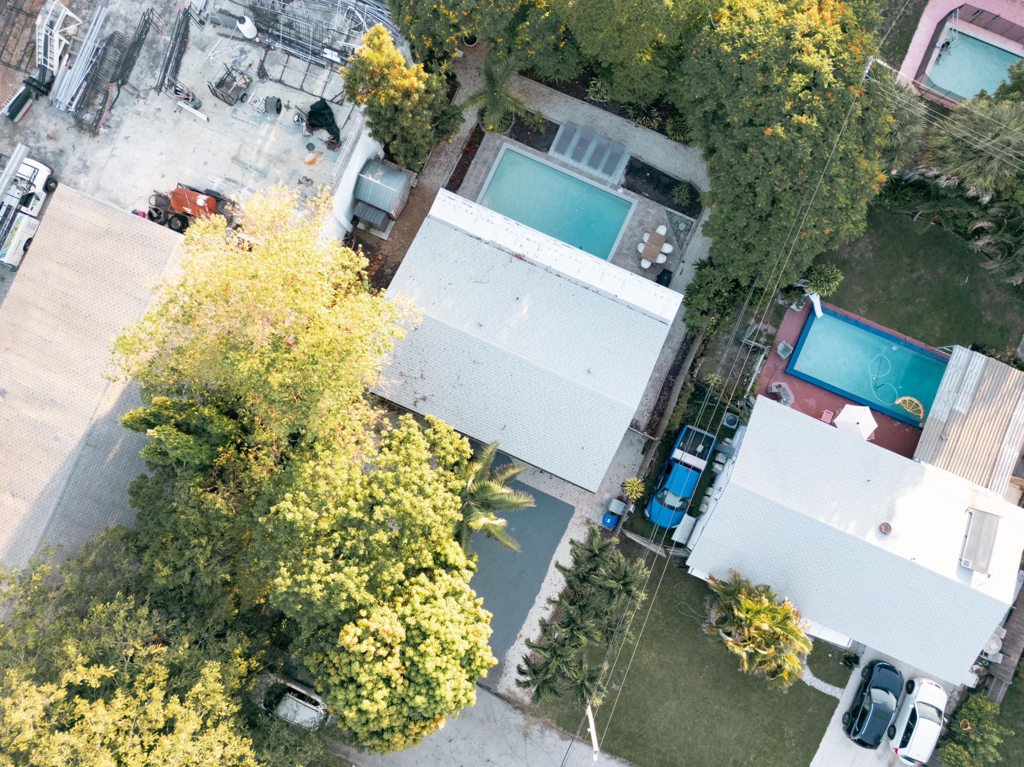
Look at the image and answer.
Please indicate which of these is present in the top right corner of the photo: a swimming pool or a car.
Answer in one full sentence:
There is a swimming pool in the top right corner of the photo.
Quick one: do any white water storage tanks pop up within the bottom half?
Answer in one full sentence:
No, there's no white water storage tank to be seen within the bottom half.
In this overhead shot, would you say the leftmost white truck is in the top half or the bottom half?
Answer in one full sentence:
The top half of the photo is where the leftmost white truck is.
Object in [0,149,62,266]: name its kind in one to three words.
truck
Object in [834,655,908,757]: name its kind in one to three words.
car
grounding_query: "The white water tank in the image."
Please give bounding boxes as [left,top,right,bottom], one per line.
[228,11,254,41]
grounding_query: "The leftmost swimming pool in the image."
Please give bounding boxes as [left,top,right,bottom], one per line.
[477,142,637,259]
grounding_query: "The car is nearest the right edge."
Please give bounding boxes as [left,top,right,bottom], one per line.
[882,671,955,767]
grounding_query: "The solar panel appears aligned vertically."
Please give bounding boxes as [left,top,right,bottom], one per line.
[959,500,1005,596]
